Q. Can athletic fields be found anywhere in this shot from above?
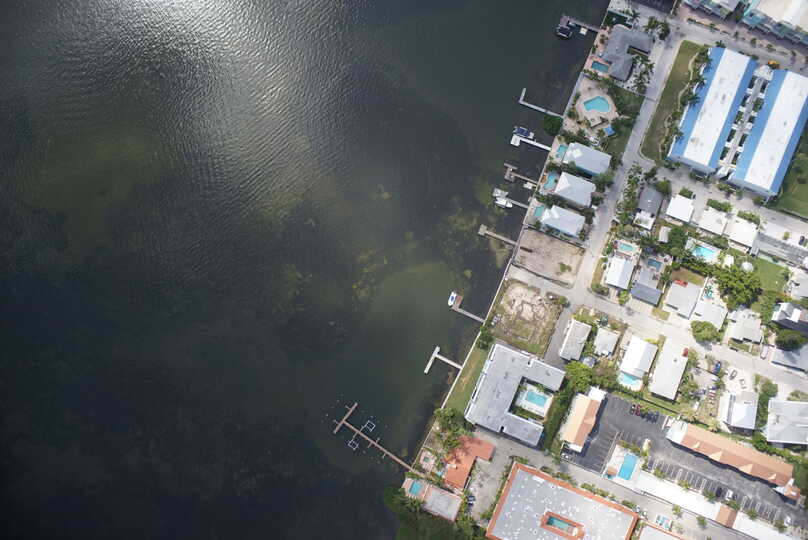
No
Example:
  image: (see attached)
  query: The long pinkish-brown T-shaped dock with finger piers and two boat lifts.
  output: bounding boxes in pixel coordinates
[332,401,432,482]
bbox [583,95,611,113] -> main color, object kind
blue swimming pool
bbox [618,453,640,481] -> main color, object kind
blue swimming pool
